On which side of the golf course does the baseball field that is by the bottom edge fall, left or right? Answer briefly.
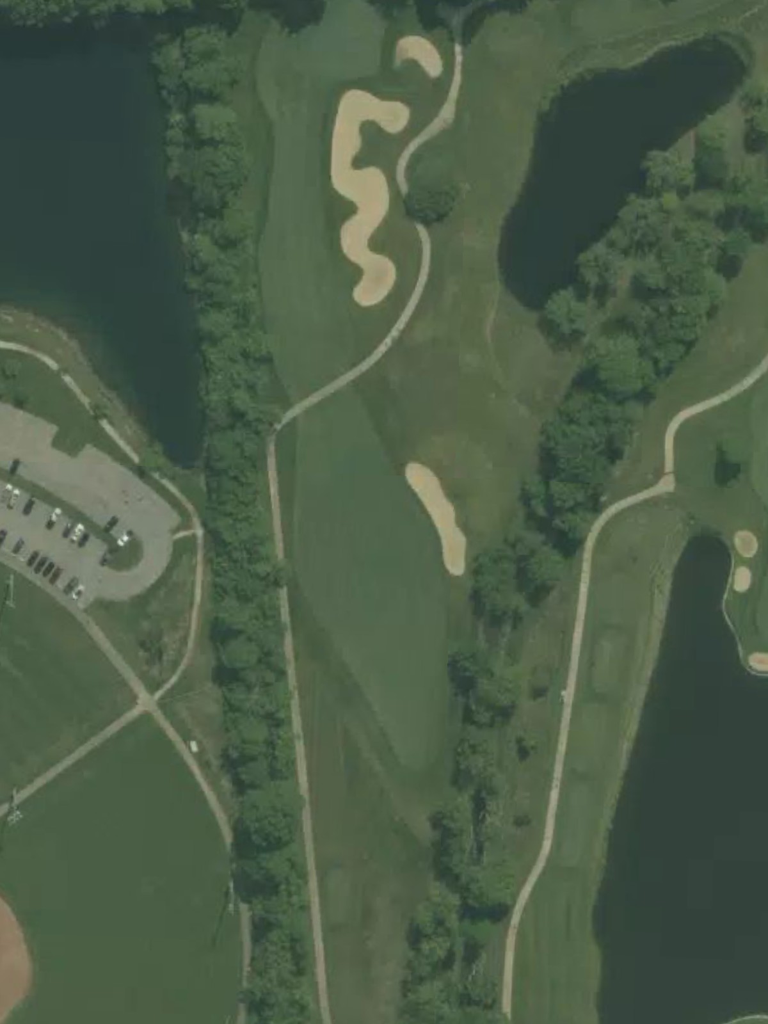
on the left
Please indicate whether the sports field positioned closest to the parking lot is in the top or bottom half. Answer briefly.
bottom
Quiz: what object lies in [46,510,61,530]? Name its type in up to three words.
vehicle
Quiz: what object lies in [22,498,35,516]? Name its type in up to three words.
vehicle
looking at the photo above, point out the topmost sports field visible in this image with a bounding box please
[0,566,138,796]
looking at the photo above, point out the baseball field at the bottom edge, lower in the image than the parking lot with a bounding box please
[0,710,239,1024]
